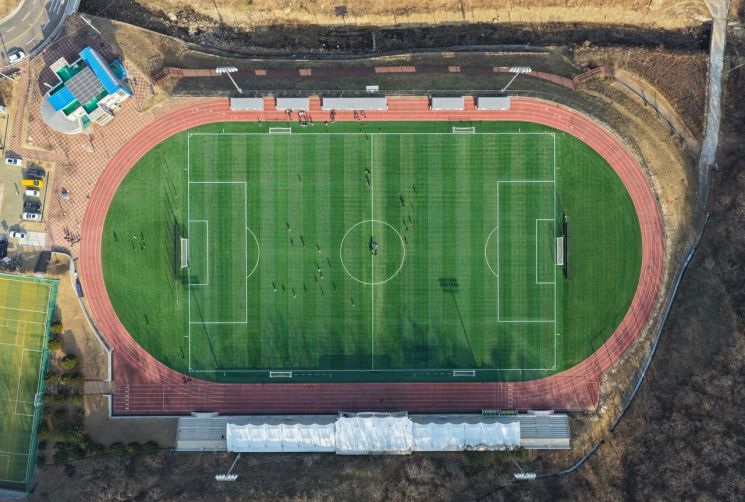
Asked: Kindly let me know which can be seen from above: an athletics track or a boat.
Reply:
athletics track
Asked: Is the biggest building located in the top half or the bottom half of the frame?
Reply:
top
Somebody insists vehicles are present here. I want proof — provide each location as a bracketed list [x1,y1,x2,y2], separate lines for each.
[25,189,41,196]
[21,178,45,187]
[23,201,41,209]
[8,51,27,63]
[6,156,23,164]
[23,212,41,220]
[10,231,27,239]
[28,168,46,176]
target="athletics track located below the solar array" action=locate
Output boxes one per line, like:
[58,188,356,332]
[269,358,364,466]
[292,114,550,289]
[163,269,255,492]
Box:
[80,97,664,415]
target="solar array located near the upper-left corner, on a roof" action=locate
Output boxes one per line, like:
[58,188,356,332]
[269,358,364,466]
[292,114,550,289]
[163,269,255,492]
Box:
[64,65,104,106]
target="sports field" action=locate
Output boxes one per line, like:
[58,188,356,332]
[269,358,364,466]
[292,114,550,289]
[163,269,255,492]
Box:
[102,122,642,383]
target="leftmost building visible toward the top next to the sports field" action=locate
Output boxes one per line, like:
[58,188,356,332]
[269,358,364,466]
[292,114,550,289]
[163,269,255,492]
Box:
[40,44,142,135]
